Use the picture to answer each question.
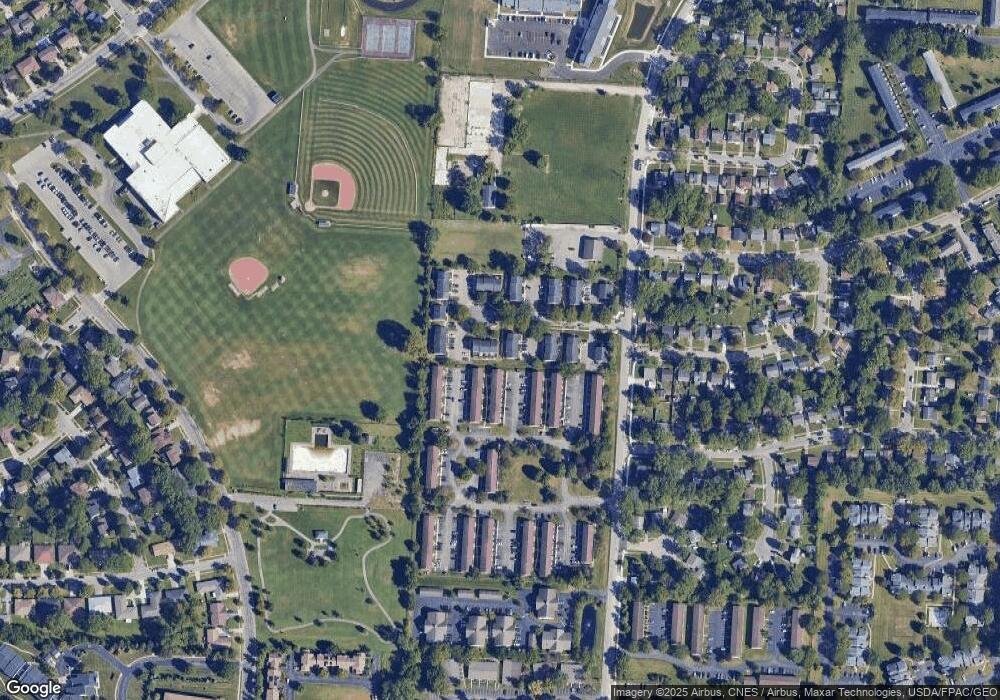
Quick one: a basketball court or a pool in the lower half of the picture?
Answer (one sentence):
The one visible in the lower half of the picture is a pool.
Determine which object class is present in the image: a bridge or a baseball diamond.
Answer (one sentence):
I can see a baseball diamond in this picture.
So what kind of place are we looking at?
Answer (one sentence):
This looks like a residential area.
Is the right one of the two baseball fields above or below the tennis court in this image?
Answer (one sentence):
The right one of the two baseball fields appears below the tennis court in the picture.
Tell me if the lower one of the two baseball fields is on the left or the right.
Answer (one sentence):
You can find the lower one of the two baseball fields on the left side of the picture.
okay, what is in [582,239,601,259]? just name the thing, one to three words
building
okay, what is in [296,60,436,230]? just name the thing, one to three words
baseball field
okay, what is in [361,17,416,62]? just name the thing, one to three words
tennis court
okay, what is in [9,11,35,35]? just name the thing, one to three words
house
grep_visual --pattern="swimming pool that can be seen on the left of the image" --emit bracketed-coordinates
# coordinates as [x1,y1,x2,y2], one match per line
[286,427,354,492]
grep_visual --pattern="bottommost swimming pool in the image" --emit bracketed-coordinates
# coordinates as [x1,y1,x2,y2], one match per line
[926,603,954,628]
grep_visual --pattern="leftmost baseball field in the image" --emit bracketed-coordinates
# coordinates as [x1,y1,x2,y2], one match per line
[228,256,270,299]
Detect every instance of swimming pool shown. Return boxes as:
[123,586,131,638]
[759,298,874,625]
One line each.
[286,427,354,492]
[926,603,954,628]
